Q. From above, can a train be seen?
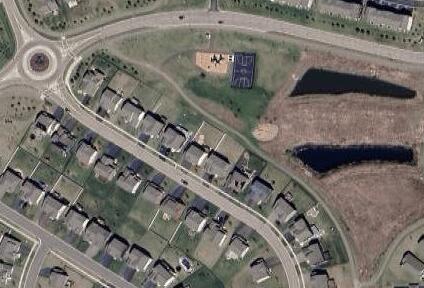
No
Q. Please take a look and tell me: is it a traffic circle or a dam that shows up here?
traffic circle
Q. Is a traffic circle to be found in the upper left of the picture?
Yes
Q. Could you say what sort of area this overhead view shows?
residential area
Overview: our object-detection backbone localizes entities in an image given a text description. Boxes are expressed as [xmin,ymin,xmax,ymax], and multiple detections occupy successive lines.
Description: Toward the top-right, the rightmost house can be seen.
[365,8,414,33]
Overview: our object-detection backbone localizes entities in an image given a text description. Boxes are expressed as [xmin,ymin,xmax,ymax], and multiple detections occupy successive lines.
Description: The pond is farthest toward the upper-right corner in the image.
[292,69,416,98]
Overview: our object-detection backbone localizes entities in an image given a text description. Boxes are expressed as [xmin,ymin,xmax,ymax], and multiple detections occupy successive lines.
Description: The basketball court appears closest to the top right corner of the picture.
[231,52,256,89]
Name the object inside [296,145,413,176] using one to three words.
pond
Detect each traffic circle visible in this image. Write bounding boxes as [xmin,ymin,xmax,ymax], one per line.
[3,32,69,90]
